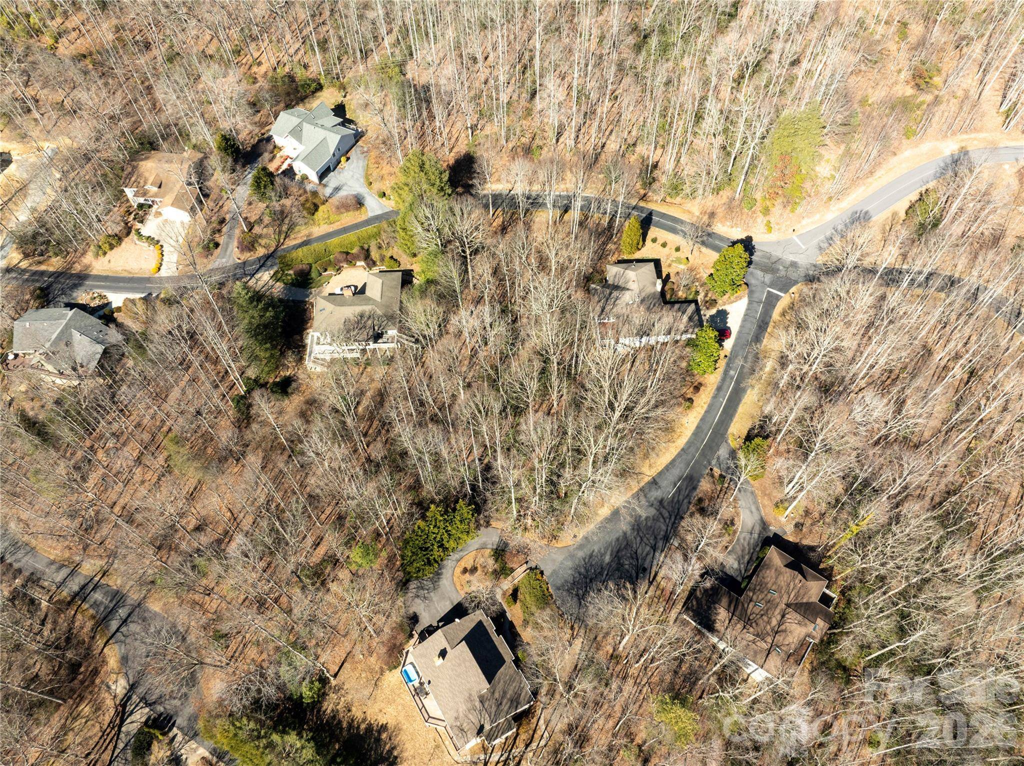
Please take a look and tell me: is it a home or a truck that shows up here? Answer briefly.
home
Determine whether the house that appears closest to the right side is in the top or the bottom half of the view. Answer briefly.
bottom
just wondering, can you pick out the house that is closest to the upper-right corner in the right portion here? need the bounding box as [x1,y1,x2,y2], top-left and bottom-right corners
[589,262,702,348]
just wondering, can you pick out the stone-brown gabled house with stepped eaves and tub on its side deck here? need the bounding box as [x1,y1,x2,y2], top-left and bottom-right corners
[399,610,535,753]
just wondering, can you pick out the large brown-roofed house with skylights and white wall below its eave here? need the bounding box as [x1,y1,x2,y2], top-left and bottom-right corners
[682,546,840,680]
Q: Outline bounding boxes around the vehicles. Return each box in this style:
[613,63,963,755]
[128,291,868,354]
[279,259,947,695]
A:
[334,284,357,295]
[710,328,733,340]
